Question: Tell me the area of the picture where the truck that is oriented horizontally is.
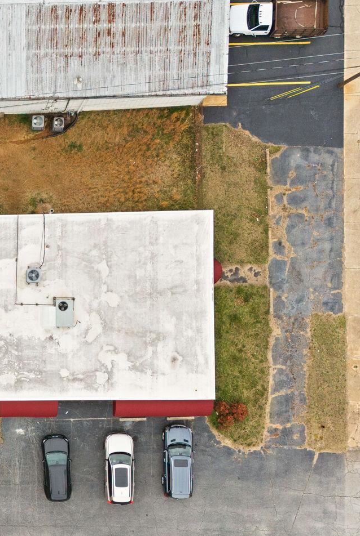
top right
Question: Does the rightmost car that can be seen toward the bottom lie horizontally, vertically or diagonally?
vertically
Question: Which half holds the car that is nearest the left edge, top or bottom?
bottom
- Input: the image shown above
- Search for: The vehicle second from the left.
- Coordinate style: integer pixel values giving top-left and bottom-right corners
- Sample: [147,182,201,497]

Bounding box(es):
[103,431,139,506]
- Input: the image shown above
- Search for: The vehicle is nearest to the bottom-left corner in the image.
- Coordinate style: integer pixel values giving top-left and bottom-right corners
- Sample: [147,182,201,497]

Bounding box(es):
[41,432,74,502]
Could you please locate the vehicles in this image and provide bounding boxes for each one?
[103,431,139,506]
[159,423,197,500]
[41,432,74,502]
[230,0,325,39]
